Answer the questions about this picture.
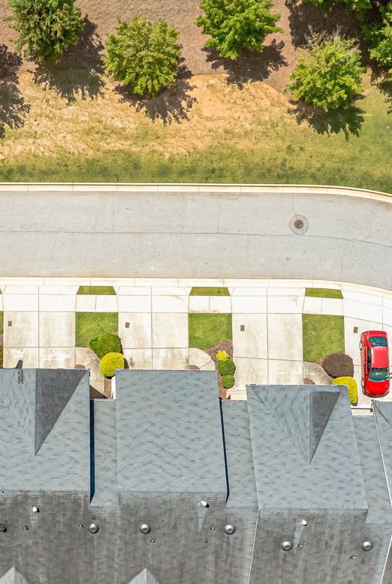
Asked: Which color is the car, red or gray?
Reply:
red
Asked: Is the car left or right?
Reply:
right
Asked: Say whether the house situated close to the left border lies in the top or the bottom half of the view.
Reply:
bottom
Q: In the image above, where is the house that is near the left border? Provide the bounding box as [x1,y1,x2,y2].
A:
[0,368,120,584]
